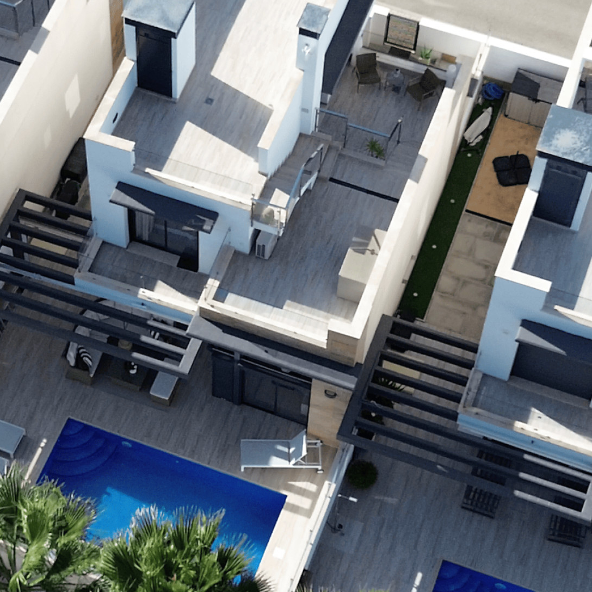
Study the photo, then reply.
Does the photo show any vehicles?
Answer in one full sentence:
No, I can't see a single vehicle in this photo.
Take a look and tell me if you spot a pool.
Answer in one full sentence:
Yes, a pool appears in the view.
